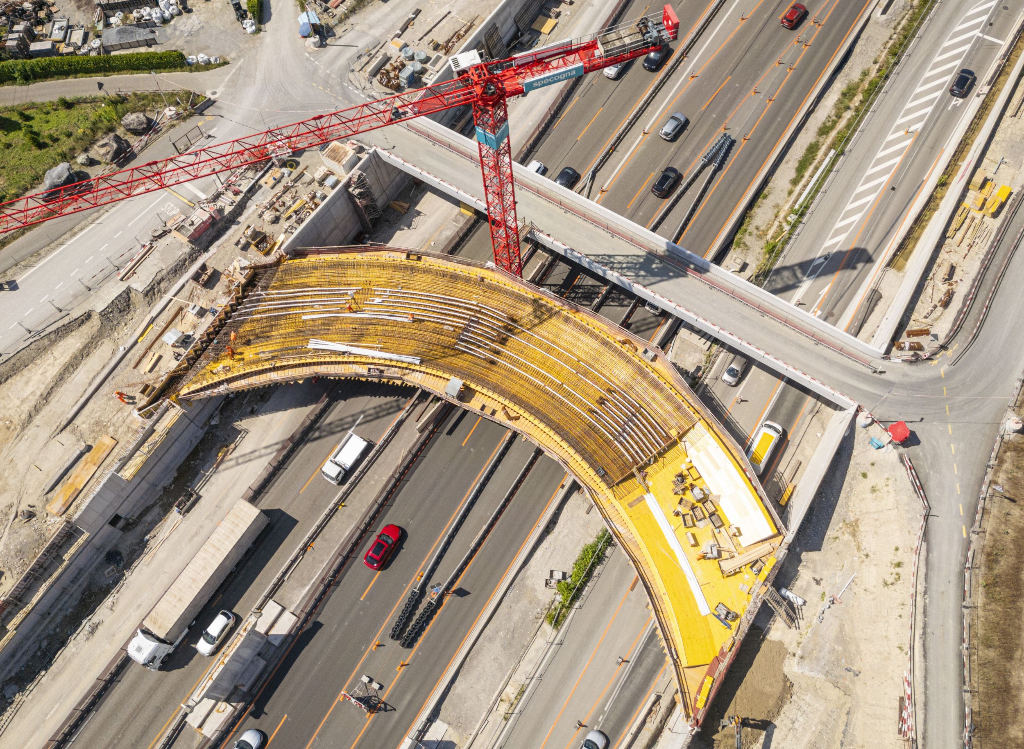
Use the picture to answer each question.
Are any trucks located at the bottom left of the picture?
Yes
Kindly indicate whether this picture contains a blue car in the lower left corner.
No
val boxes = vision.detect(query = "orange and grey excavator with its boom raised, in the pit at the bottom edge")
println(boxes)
[706,693,736,749]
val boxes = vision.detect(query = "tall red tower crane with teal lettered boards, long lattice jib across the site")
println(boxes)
[0,0,691,282]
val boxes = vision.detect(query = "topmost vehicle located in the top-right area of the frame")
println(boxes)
[781,2,805,29]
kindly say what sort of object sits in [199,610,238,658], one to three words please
car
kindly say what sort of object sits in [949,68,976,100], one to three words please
car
